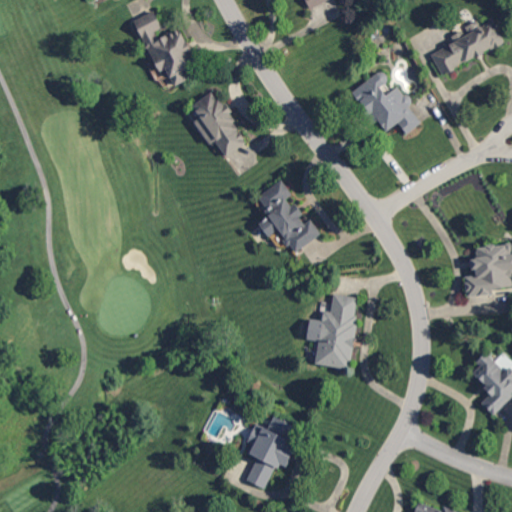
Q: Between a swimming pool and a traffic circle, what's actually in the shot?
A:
swimming pool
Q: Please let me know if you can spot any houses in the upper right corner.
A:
Yes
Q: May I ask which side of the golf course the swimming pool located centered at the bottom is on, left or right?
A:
to the right of it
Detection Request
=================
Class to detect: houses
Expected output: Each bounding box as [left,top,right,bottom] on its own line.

[132,10,192,92]
[306,296,356,370]
[473,351,512,418]
[430,21,505,79]
[244,416,294,492]
[191,90,242,158]
[348,68,424,136]
[414,502,454,512]
[258,180,322,254]
[458,240,512,302]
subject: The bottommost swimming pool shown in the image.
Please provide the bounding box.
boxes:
[204,408,245,444]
